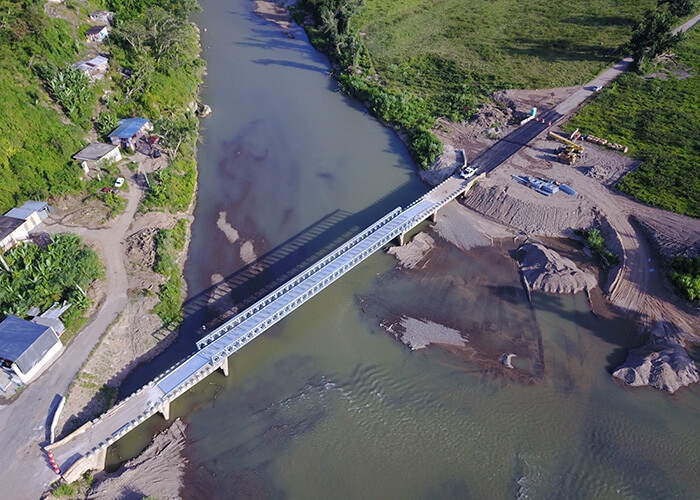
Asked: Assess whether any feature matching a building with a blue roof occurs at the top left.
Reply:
Yes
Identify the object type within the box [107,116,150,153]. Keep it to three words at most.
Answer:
house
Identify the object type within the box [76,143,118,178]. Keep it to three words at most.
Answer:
house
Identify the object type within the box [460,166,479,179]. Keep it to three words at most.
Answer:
vehicle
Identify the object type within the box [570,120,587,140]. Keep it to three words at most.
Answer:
vehicle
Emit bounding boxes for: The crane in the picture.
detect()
[539,133,587,168]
